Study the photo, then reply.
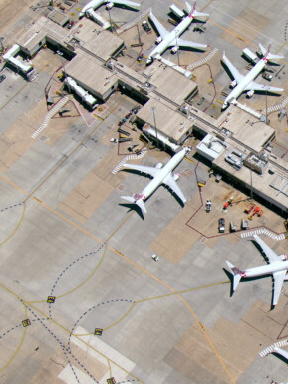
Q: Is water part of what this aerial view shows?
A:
No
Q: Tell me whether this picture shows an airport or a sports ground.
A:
airport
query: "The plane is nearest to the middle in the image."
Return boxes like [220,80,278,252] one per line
[123,149,190,213]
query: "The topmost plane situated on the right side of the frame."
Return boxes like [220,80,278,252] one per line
[146,0,209,64]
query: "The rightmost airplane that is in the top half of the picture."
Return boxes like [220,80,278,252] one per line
[222,42,285,108]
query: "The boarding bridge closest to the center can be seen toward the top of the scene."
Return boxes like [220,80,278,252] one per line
[142,124,187,161]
